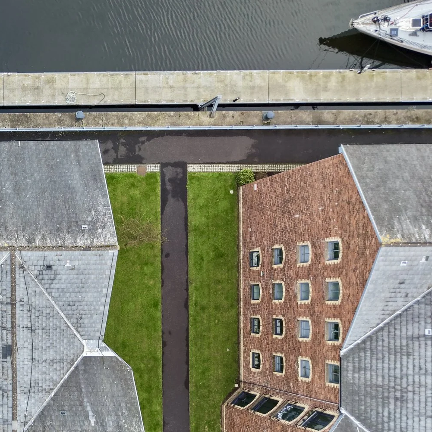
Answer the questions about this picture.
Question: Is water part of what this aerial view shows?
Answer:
Yes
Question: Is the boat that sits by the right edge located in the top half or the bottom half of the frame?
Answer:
top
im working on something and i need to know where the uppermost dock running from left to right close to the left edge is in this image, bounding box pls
[2,71,136,105]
